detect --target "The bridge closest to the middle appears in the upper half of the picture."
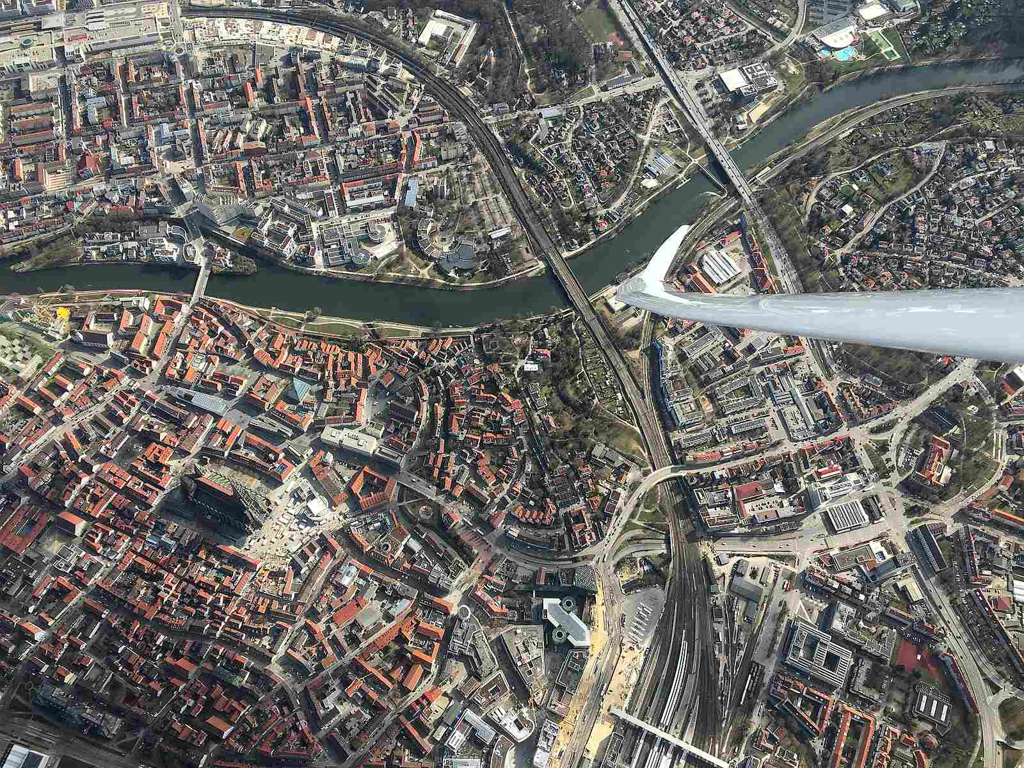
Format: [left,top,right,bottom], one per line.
[544,248,595,321]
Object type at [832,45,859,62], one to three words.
swimming pool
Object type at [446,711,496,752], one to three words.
building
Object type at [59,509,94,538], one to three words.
house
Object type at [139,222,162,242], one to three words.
building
